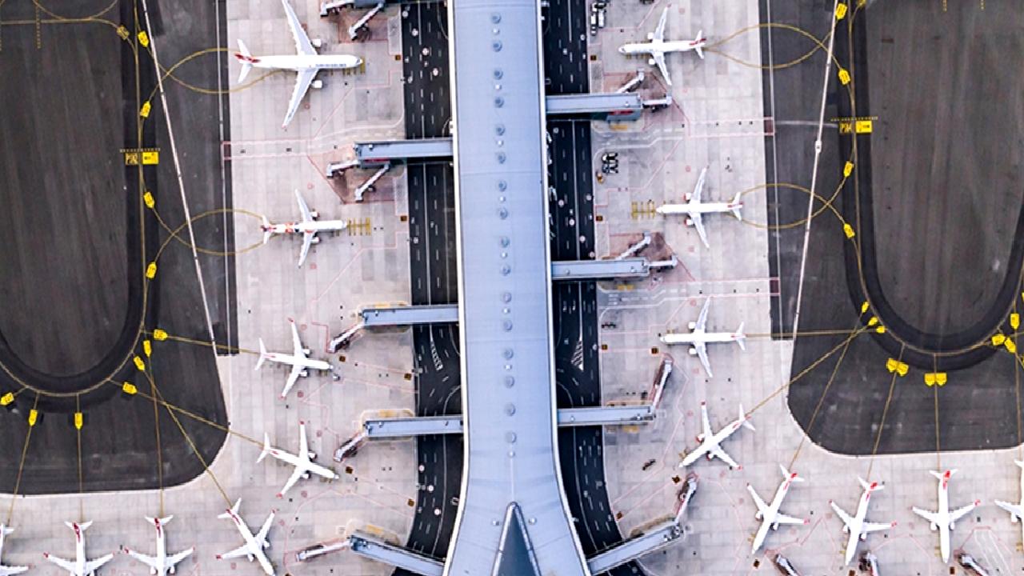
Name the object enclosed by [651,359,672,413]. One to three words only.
jet bridge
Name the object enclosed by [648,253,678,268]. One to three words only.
jet bridge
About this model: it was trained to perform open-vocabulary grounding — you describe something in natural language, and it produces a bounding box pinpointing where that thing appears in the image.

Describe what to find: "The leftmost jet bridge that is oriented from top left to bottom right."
[773,552,798,576]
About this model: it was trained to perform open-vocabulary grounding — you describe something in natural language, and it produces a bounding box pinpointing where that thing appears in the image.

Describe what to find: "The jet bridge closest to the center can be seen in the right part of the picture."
[613,230,651,259]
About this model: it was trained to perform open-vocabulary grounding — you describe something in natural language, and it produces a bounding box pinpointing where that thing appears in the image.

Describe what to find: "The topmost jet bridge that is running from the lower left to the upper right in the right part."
[615,67,646,93]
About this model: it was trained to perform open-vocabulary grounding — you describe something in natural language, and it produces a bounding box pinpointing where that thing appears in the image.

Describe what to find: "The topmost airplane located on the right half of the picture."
[619,4,708,86]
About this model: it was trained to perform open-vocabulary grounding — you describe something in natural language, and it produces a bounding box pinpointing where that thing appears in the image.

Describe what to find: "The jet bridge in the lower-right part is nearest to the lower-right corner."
[957,551,984,576]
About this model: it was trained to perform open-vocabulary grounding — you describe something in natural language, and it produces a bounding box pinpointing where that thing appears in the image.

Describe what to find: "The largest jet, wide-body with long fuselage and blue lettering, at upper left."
[234,0,363,129]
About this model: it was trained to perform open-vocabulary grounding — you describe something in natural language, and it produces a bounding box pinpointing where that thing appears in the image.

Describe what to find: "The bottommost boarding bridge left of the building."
[295,538,351,562]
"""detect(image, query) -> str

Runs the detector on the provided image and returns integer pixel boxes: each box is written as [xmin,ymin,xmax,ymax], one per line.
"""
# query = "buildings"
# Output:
[441,0,592,576]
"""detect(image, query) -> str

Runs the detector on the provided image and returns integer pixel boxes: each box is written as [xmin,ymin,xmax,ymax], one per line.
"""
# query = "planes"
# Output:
[912,470,979,563]
[831,475,898,565]
[0,527,32,576]
[260,187,346,267]
[259,423,339,494]
[660,296,749,379]
[619,4,708,86]
[234,0,363,129]
[656,164,746,248]
[680,405,758,466]
[123,516,194,576]
[213,498,275,575]
[747,465,812,554]
[43,520,113,576]
[256,320,333,399]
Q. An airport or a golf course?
airport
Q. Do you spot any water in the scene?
No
